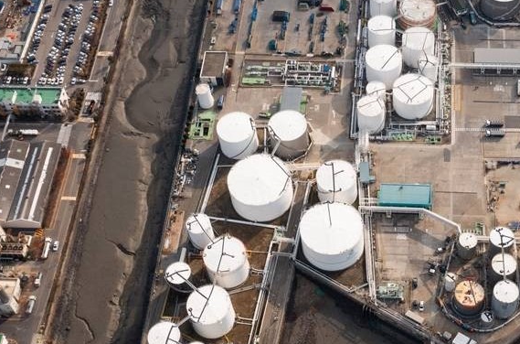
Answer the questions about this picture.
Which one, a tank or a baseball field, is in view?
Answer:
tank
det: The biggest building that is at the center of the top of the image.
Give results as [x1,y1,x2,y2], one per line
[200,51,229,86]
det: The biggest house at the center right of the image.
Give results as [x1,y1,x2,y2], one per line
[378,184,431,211]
